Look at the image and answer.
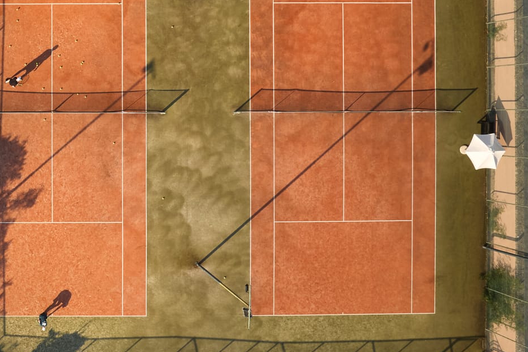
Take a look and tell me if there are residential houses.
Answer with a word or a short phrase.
No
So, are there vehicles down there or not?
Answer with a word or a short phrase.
No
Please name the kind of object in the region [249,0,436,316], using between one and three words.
tennis court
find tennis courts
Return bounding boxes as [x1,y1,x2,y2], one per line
[0,0,147,317]
[249,0,436,316]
